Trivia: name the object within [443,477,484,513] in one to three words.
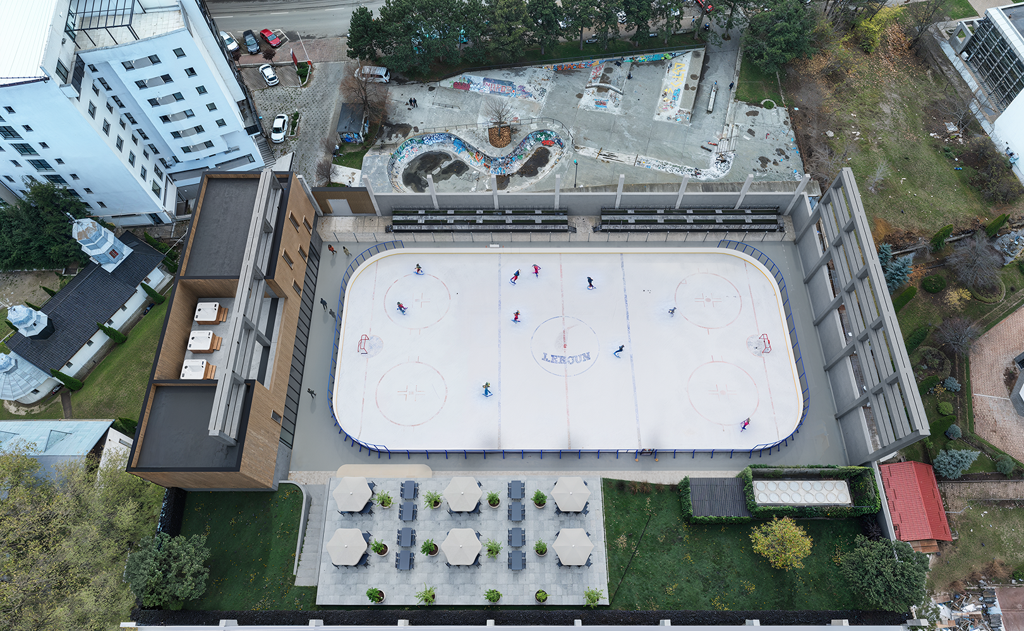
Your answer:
umbrella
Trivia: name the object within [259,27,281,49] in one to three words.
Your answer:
car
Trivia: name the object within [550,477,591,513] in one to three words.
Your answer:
umbrella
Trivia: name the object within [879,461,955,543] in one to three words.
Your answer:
shed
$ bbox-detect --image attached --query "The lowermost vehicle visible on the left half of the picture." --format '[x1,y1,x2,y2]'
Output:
[270,116,290,142]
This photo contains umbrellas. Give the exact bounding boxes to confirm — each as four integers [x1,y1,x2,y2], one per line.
[327,529,370,567]
[440,529,483,567]
[443,477,484,513]
[551,528,594,567]
[550,477,591,513]
[332,478,374,513]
